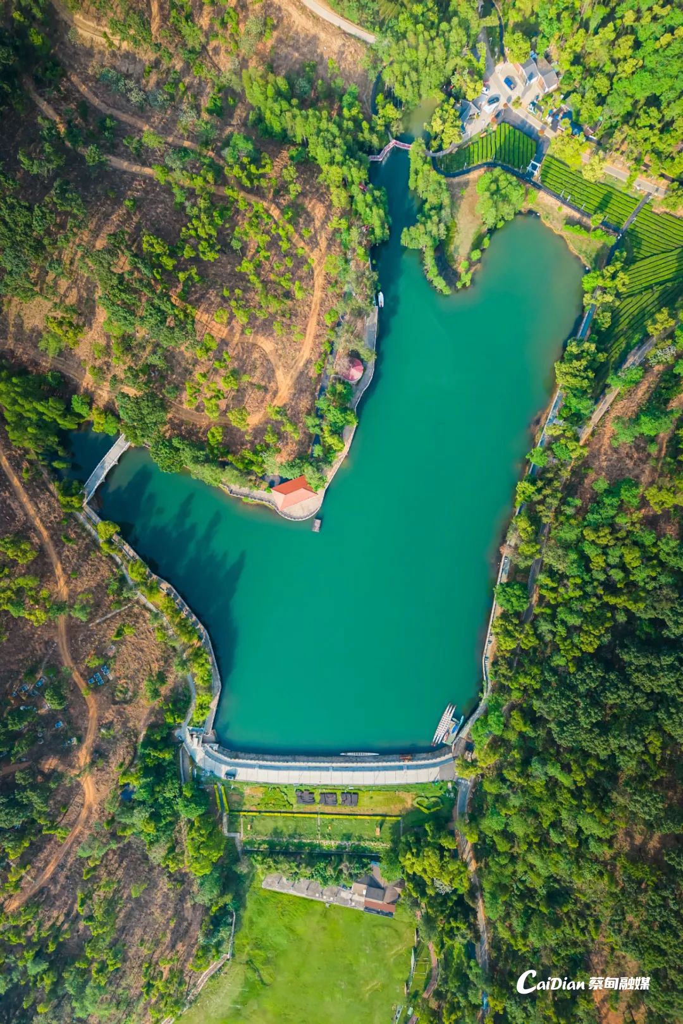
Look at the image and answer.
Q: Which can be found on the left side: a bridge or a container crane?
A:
bridge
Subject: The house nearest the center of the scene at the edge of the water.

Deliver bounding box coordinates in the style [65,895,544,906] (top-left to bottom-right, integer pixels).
[272,478,317,510]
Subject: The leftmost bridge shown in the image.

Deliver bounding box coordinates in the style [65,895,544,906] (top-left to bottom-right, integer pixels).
[82,439,130,496]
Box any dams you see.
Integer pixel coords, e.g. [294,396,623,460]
[188,743,455,786]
